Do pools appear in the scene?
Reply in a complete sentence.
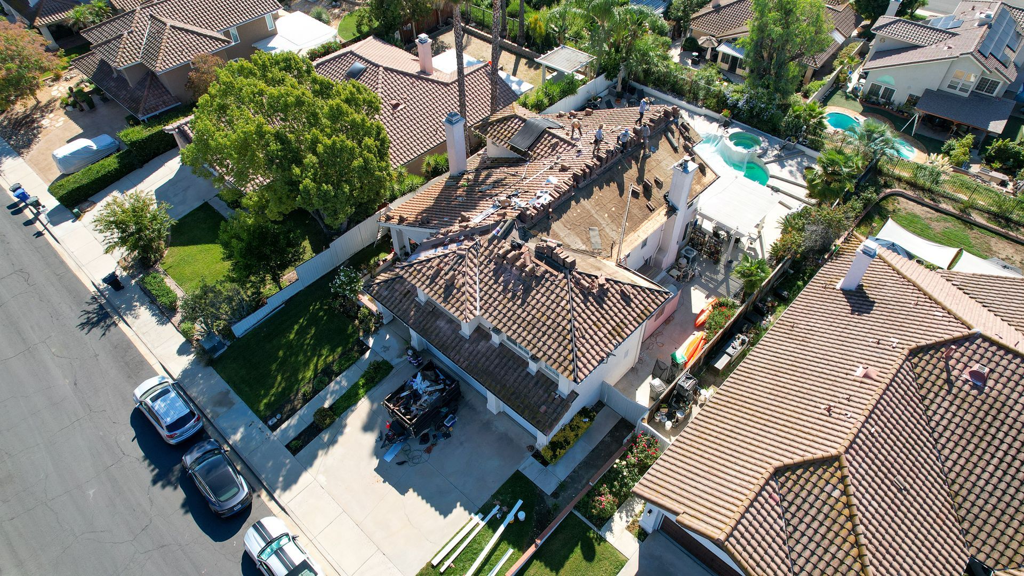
Yes, the image includes a pool.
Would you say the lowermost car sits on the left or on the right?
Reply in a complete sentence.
The lowermost car is on the left side of the image.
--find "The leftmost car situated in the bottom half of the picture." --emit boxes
[136,376,204,445]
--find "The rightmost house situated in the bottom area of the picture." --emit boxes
[627,230,1024,576]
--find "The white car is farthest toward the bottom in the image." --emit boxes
[253,519,331,576]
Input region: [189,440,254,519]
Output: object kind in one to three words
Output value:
car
